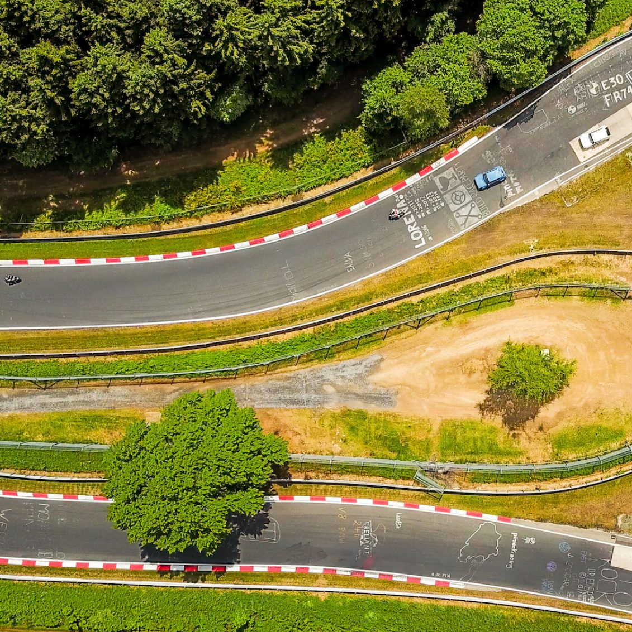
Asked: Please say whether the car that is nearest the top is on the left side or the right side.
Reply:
right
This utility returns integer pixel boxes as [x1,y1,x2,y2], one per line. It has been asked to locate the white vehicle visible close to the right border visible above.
[577,126,612,150]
